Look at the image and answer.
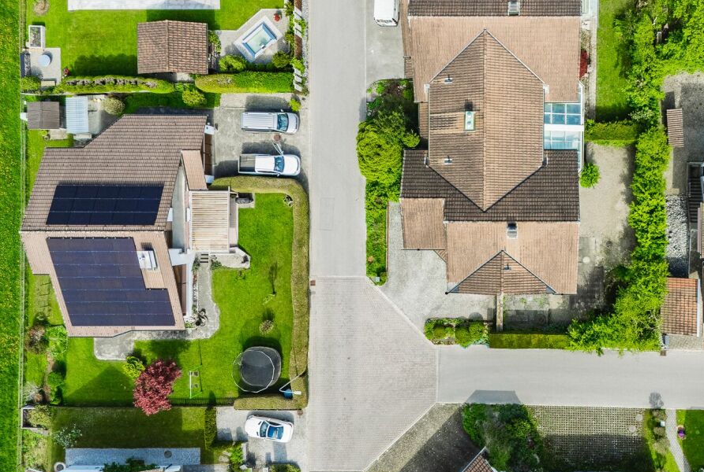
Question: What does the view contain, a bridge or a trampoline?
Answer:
trampoline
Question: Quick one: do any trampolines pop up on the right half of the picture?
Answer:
No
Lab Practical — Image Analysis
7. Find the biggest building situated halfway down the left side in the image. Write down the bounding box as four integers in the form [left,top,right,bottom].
[18,113,237,337]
